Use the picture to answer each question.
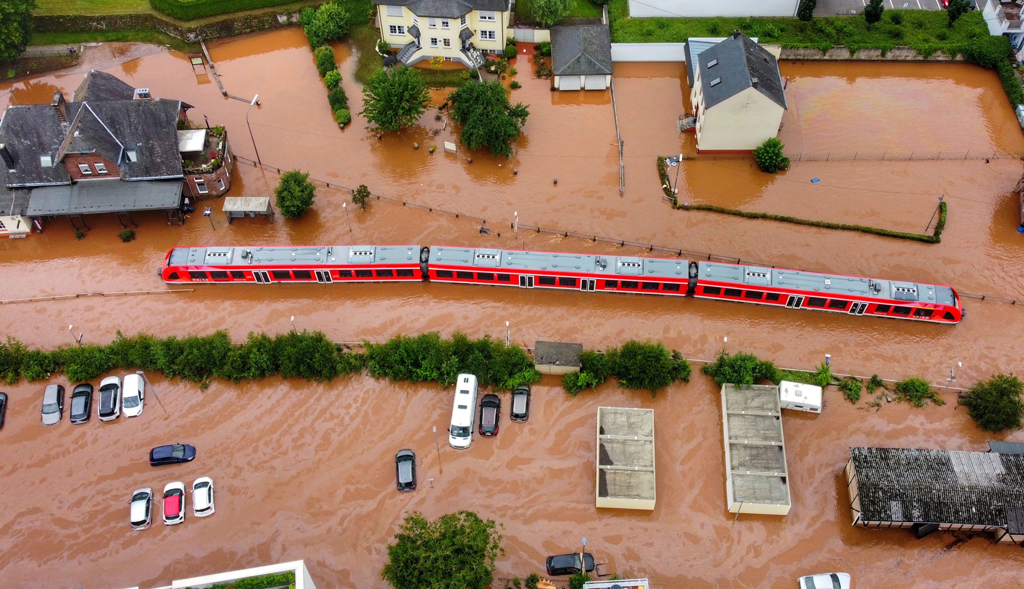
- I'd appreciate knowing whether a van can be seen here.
Yes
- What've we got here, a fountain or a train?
train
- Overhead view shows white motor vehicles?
Yes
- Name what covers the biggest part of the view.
water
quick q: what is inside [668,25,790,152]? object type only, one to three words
house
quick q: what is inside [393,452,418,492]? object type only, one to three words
car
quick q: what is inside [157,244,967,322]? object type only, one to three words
train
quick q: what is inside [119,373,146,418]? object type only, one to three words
vehicle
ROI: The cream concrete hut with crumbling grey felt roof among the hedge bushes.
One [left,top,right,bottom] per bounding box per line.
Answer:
[534,337,584,375]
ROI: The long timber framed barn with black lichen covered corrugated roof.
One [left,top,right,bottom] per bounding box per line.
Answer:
[842,446,1024,551]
